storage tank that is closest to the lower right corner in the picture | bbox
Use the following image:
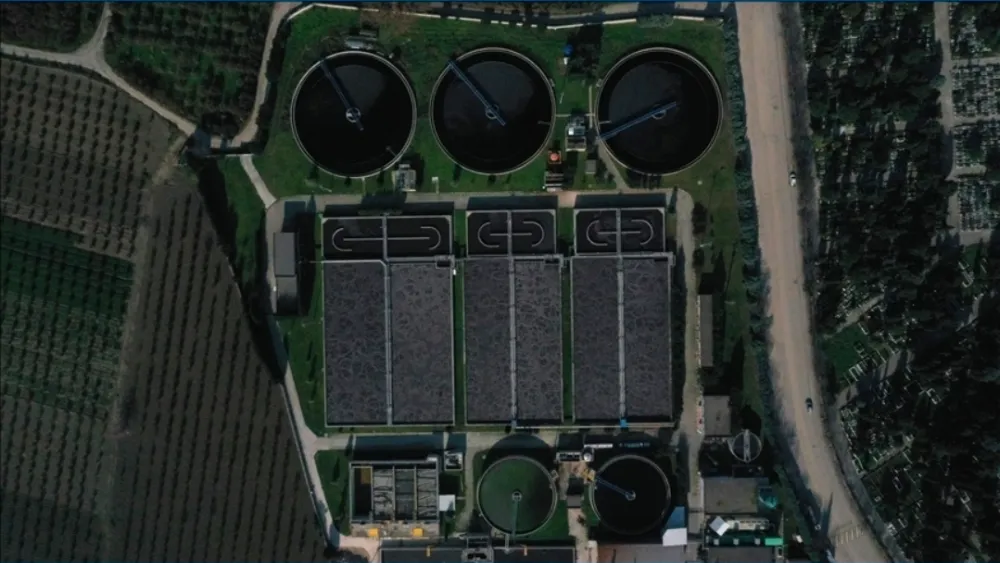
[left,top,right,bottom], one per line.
[726,429,762,462]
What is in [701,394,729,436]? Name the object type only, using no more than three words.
building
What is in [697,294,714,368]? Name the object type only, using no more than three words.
shed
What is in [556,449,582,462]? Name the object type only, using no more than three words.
building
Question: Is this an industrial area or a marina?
industrial area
